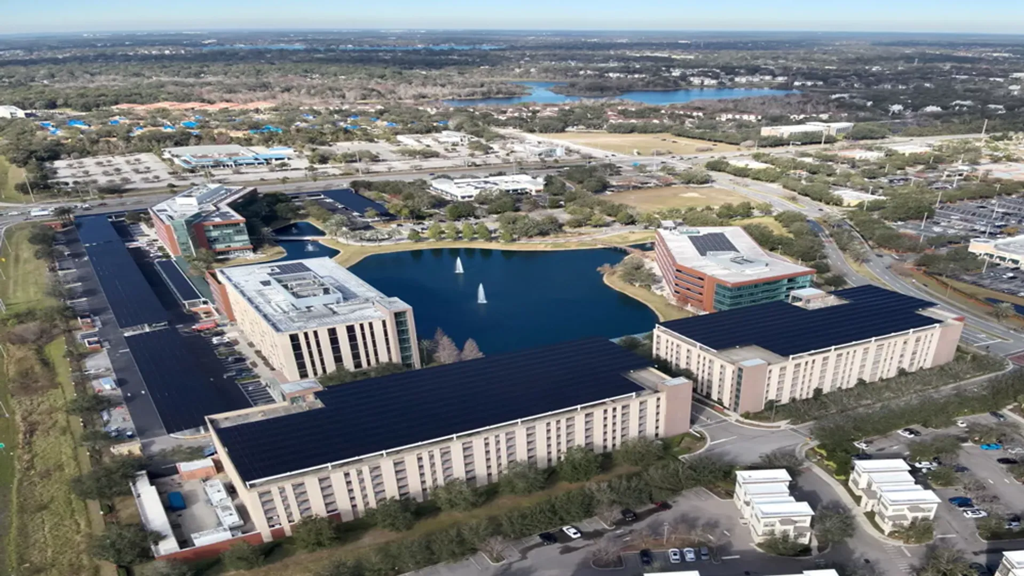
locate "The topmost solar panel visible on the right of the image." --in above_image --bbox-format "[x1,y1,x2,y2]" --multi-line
[688,232,740,256]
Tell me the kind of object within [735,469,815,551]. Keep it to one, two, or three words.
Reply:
house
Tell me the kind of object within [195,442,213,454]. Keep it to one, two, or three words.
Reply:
vehicle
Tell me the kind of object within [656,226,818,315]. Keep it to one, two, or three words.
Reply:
building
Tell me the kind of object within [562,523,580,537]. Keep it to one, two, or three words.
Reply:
car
